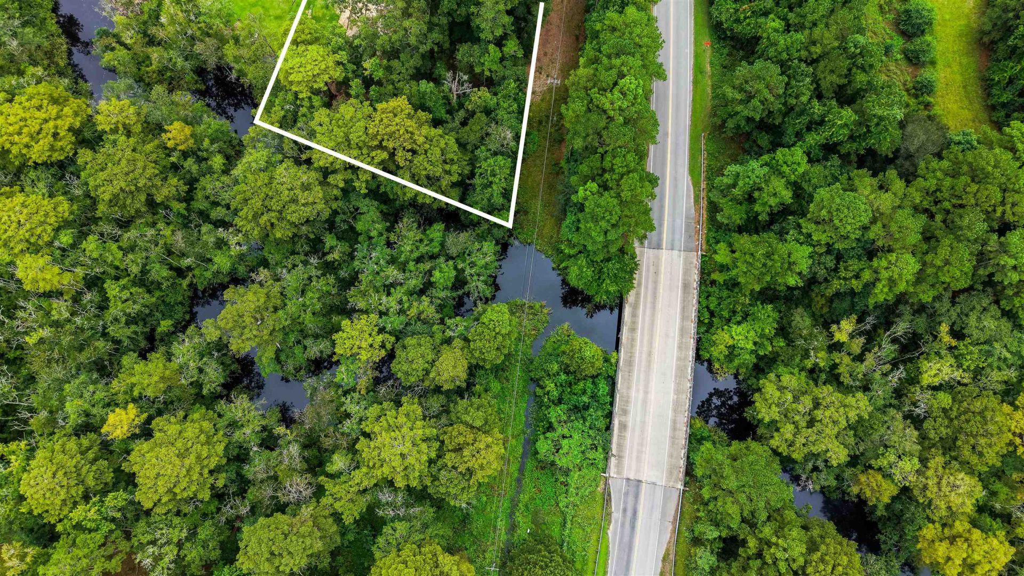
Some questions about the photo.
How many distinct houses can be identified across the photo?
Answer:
0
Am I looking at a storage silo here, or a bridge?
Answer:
bridge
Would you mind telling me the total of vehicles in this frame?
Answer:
0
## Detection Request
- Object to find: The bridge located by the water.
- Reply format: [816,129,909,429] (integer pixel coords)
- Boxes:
[599,243,701,492]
